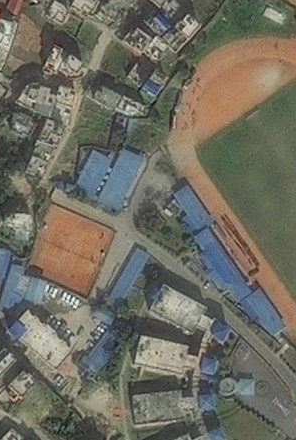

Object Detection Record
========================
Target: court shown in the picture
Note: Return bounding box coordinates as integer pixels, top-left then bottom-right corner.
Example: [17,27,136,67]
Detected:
[25,200,118,303]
